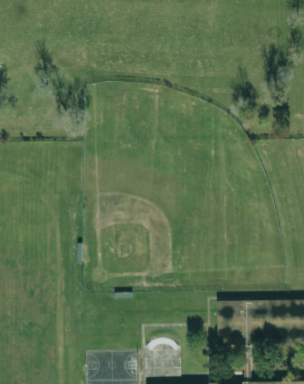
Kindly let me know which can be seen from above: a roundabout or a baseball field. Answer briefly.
baseball field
